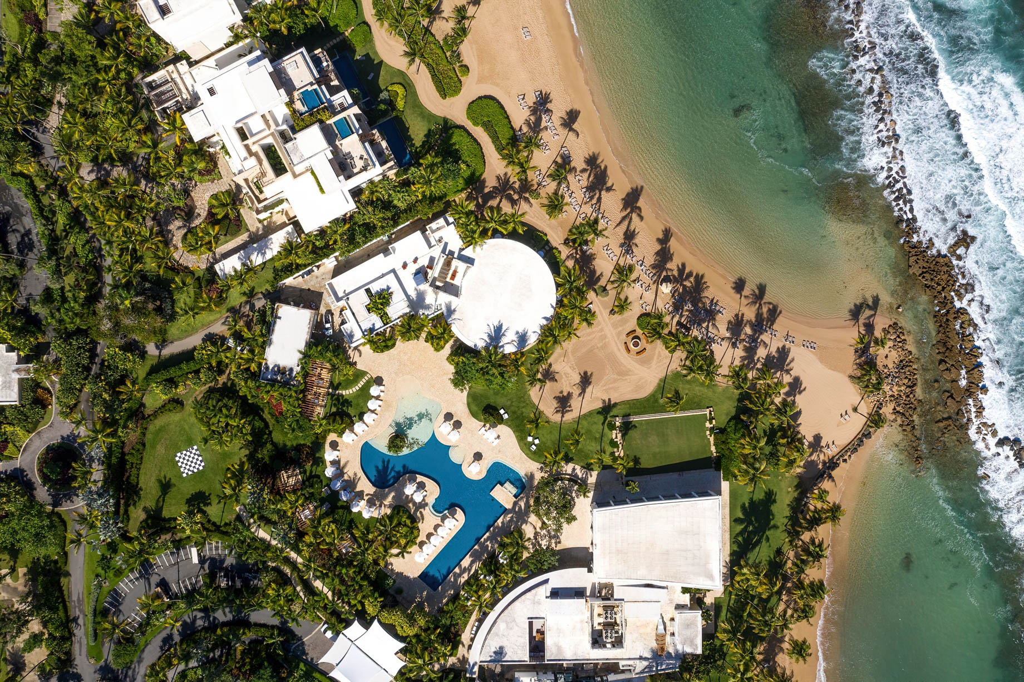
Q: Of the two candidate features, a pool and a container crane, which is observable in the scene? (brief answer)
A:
pool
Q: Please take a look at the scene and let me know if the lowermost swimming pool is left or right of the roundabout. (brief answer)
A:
on the right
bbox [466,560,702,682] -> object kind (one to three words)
building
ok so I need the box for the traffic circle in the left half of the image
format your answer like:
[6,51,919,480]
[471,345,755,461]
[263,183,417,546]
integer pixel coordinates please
[18,423,104,509]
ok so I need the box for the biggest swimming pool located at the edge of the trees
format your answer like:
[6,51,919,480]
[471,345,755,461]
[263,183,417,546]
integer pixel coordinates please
[359,380,528,594]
